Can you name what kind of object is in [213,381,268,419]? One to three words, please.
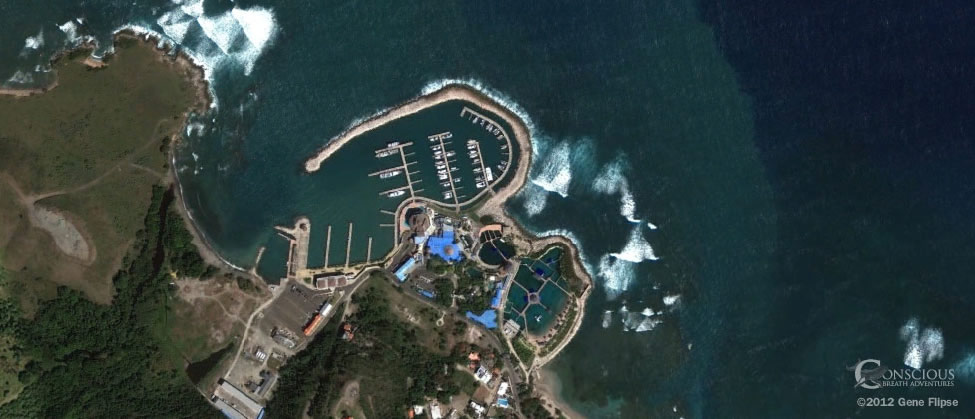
building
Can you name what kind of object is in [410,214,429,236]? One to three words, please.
building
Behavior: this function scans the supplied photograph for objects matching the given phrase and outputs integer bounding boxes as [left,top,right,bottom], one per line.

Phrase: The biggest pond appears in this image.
[505,247,570,336]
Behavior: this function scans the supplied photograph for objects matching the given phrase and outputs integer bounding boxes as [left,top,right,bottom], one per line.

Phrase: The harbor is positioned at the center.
[256,84,531,268]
